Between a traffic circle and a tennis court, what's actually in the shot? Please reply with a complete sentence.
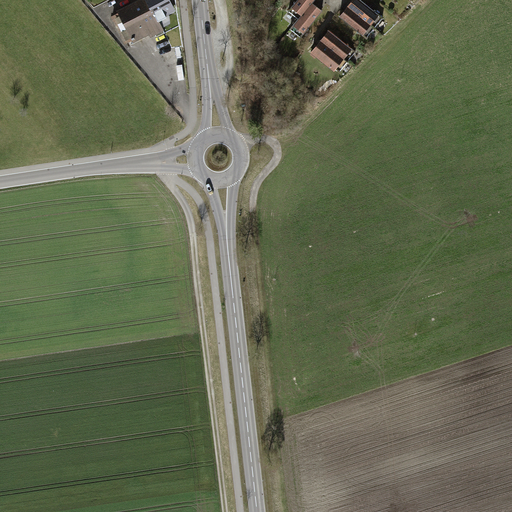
It is a traffic circle that can be seen here.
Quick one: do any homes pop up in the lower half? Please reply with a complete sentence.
No, I see no home in the lower half.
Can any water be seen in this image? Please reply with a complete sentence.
No, there is no water in the image.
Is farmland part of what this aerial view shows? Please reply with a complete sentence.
Yes, there's farmland in this view.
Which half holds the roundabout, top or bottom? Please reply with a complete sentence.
The top half of the photo is where the roundabout is.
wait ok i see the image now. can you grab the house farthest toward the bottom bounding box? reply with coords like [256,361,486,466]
[312,32,355,74]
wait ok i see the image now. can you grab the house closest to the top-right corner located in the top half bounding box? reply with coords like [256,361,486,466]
[340,0,382,40]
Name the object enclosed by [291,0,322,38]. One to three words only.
house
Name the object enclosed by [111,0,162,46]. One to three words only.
house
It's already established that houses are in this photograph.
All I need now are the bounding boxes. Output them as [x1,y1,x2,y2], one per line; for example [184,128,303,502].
[340,0,382,40]
[312,32,355,74]
[291,0,322,38]
[111,0,162,46]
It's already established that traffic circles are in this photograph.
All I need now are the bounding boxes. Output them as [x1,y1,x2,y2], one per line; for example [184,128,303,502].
[188,128,249,188]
